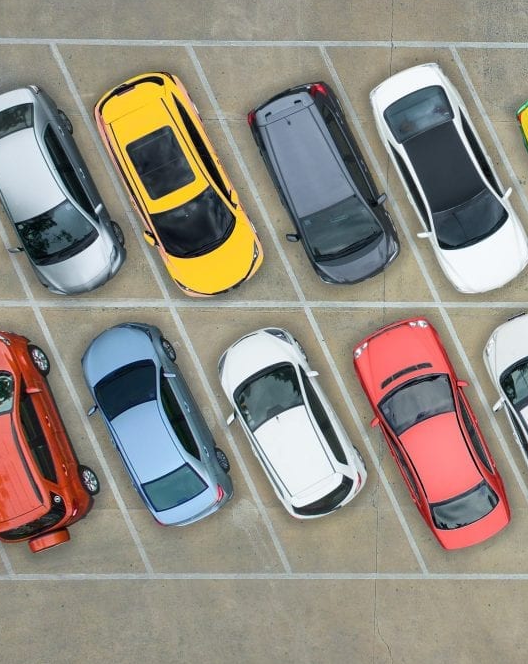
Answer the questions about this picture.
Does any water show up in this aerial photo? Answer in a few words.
No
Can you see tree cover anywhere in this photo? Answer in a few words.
No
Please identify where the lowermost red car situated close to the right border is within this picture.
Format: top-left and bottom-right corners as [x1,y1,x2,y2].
[354,319,511,551]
